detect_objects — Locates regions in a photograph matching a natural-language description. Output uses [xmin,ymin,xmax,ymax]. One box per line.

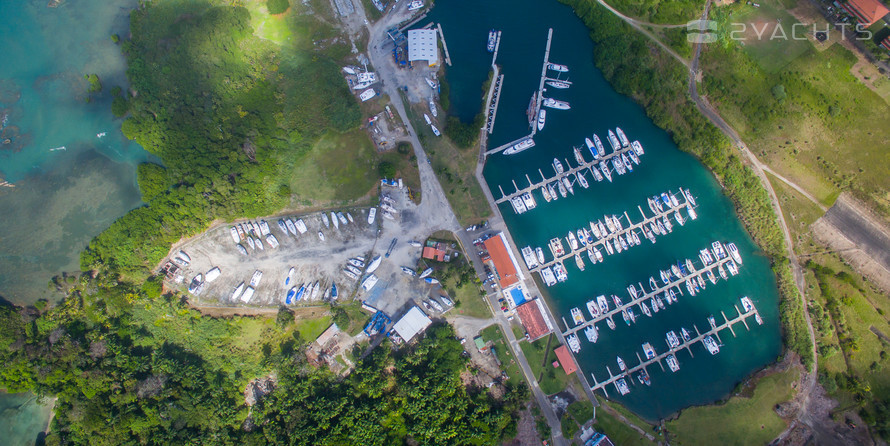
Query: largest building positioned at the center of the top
[408,29,438,65]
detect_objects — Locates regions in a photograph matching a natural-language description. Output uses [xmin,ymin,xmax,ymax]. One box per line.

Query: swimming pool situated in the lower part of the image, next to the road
[503,282,533,310]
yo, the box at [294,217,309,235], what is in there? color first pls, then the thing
white boat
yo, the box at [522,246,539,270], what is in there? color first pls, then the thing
white boat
